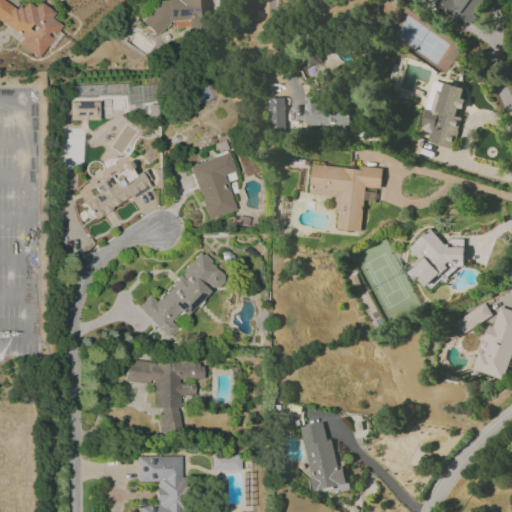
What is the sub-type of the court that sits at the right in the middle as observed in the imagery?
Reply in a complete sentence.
I'd identify the court that sits at the right in the middle as a tennis court.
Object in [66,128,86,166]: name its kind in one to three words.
building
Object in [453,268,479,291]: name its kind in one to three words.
swimming pool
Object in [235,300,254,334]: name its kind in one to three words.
swimming pool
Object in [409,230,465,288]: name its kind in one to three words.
house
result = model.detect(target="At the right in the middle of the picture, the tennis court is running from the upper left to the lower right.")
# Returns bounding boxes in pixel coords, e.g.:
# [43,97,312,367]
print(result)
[364,242,432,330]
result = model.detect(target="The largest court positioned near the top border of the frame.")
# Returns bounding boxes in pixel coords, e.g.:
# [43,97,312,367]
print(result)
[397,8,458,72]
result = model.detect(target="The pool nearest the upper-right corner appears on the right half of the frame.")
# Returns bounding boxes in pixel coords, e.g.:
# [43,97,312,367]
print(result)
[402,64,432,92]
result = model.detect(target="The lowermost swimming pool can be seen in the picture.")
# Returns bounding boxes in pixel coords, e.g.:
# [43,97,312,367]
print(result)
[227,473,242,505]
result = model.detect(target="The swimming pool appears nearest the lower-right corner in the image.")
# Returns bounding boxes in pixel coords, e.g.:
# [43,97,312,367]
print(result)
[448,347,468,369]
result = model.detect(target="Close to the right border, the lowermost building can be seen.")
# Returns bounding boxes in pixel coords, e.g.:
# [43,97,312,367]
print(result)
[460,284,512,380]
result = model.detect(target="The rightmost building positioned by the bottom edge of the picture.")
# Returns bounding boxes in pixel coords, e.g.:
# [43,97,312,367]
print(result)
[302,422,350,493]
